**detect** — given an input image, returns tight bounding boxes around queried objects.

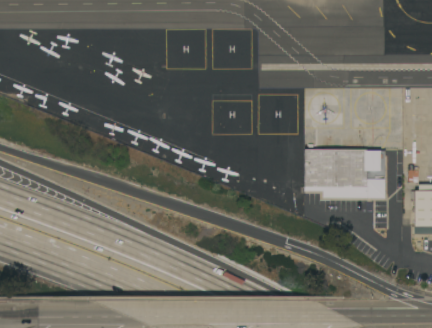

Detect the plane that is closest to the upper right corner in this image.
[405,142,419,164]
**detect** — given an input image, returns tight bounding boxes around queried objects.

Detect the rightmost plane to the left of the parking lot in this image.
[216,166,238,182]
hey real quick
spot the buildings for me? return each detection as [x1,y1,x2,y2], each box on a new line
[414,184,432,234]
[303,149,386,200]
